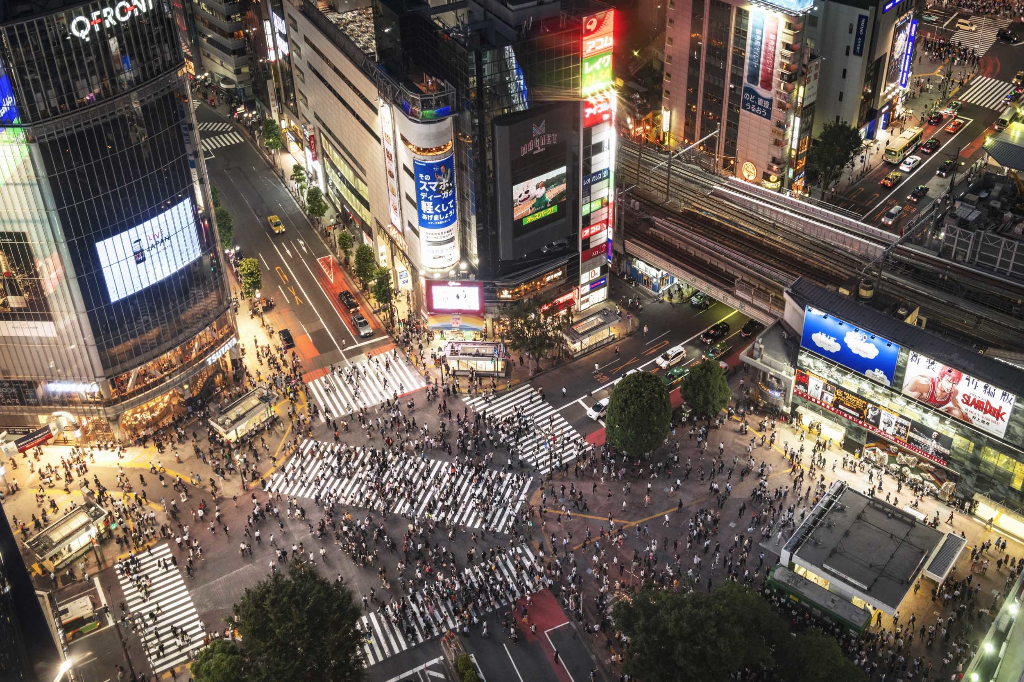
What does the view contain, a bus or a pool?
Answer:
bus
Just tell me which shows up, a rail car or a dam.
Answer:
rail car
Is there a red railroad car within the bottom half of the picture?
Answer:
No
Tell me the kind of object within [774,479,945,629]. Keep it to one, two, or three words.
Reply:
building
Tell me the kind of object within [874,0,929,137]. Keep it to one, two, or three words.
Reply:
building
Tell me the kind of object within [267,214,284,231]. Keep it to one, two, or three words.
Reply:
car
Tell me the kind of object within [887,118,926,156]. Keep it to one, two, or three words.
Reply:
bus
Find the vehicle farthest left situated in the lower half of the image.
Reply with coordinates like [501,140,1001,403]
[60,599,101,641]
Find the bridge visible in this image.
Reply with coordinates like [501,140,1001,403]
[608,135,1024,362]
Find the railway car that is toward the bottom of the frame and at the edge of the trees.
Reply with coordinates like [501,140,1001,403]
[767,567,872,645]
